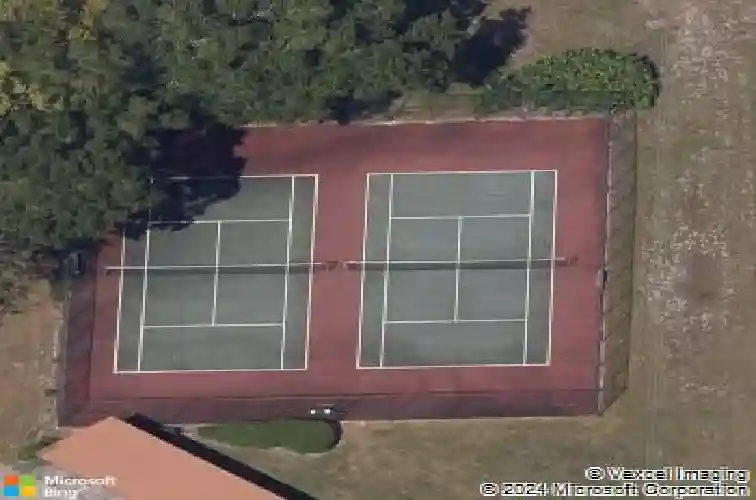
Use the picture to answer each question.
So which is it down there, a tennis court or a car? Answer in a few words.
tennis court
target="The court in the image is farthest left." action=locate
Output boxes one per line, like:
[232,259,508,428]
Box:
[114,175,317,371]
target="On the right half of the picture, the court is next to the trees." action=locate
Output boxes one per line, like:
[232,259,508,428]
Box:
[357,171,554,368]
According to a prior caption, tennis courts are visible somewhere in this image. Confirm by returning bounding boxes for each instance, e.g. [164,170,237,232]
[114,175,317,371]
[357,171,554,368]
